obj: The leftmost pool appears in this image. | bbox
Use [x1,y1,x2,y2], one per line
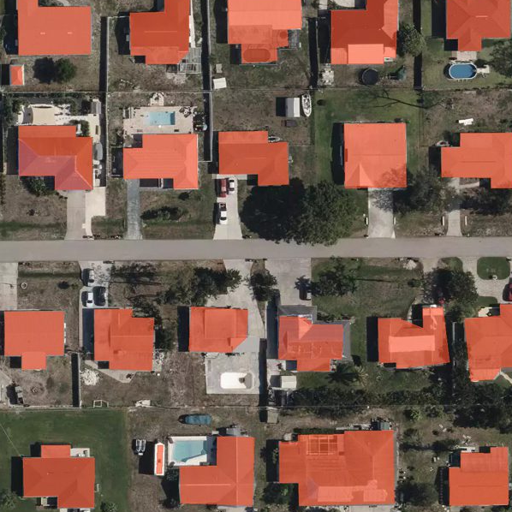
[144,109,177,125]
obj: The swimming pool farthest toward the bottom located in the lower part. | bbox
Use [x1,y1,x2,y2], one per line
[172,439,209,463]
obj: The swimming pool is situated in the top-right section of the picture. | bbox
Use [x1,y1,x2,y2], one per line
[450,62,477,79]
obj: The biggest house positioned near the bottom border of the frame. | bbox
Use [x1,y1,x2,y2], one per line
[280,431,396,506]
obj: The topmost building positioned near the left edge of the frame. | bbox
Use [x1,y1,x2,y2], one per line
[17,0,91,54]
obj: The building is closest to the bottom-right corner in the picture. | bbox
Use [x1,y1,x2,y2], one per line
[451,447,510,505]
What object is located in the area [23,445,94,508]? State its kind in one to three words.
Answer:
house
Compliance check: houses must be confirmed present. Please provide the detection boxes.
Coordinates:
[466,303,512,381]
[278,305,351,370]
[345,122,408,187]
[448,0,512,49]
[219,131,289,185]
[379,307,451,367]
[19,125,93,190]
[123,133,198,188]
[280,431,396,506]
[190,307,248,351]
[451,447,510,505]
[4,310,64,368]
[17,0,91,54]
[94,308,155,370]
[181,437,255,506]
[332,0,400,63]
[131,0,202,73]
[23,445,94,508]
[442,132,512,188]
[228,0,303,63]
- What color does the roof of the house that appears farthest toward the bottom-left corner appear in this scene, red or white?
red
